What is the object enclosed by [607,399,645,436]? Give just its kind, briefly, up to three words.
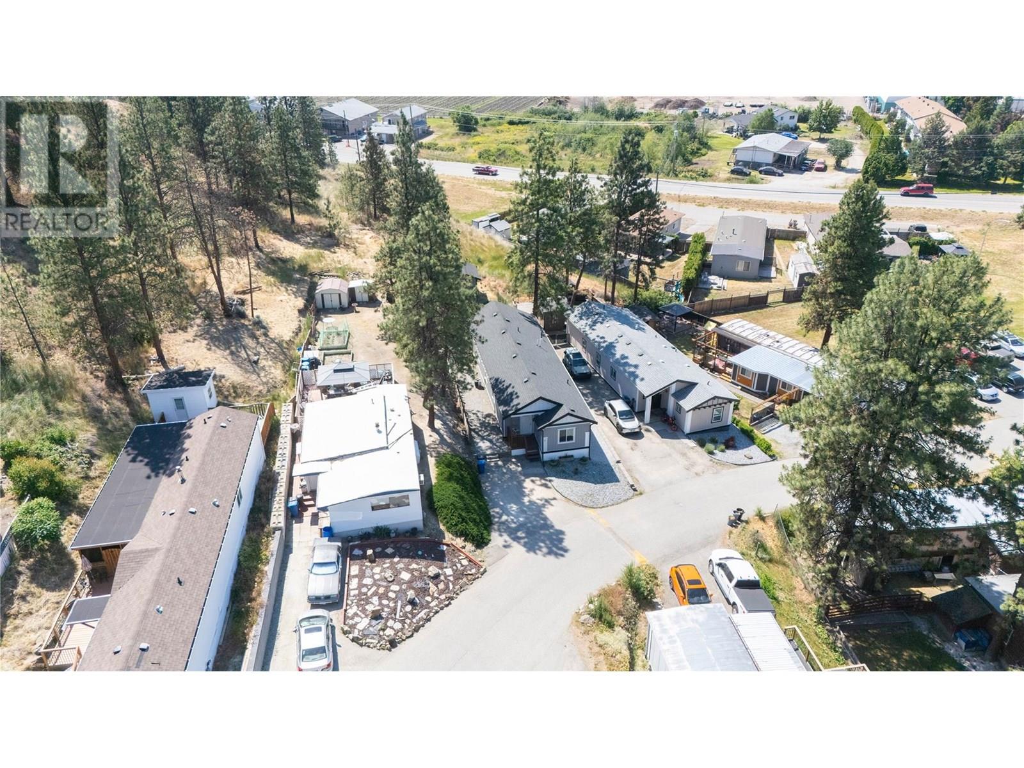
car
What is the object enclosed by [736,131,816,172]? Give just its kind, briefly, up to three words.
house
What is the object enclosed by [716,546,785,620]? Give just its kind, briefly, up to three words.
truck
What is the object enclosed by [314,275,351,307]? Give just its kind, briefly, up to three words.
shed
